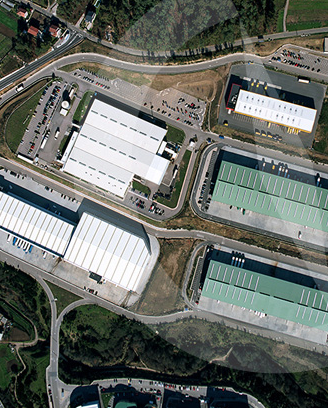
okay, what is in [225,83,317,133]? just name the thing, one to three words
building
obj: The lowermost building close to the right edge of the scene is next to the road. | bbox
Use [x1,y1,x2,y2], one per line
[201,259,328,334]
